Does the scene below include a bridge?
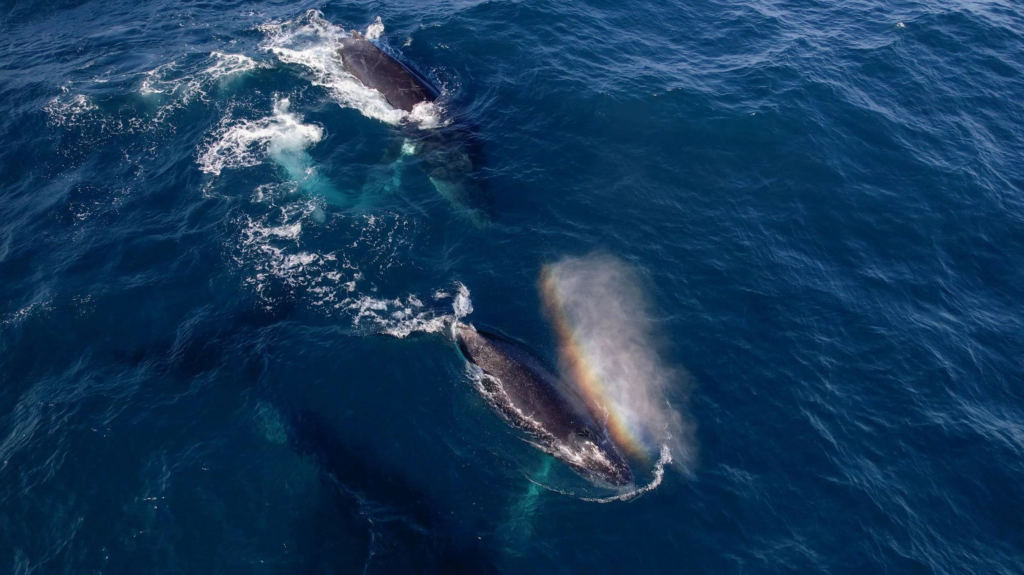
No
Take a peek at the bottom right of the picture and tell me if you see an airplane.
No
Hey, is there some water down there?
Yes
